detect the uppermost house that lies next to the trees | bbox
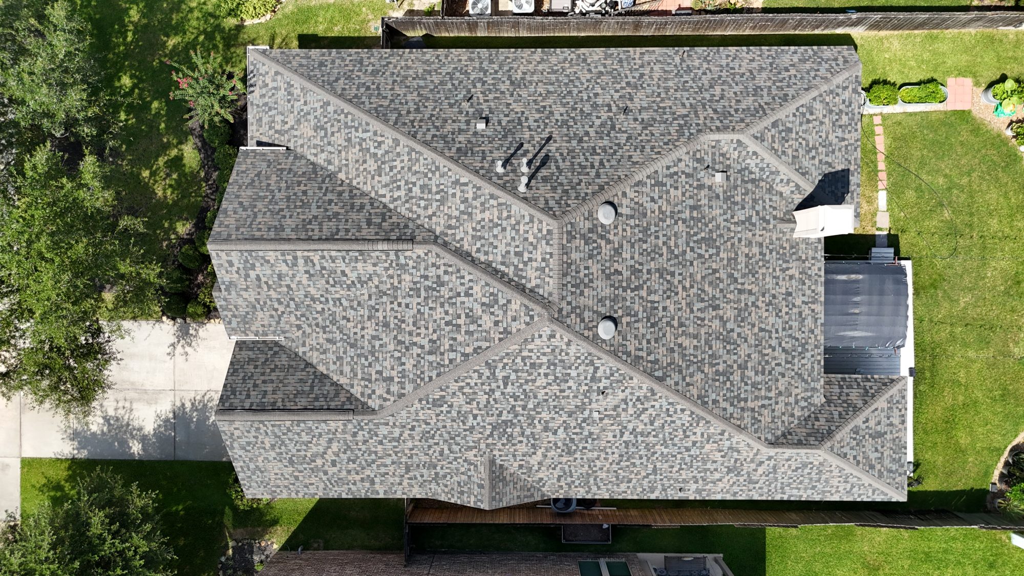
[207,45,909,510]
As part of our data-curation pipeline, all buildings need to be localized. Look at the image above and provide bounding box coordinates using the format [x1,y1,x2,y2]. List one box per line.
[254,548,654,576]
[207,45,909,510]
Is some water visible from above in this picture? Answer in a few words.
No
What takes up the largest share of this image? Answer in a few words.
buildings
